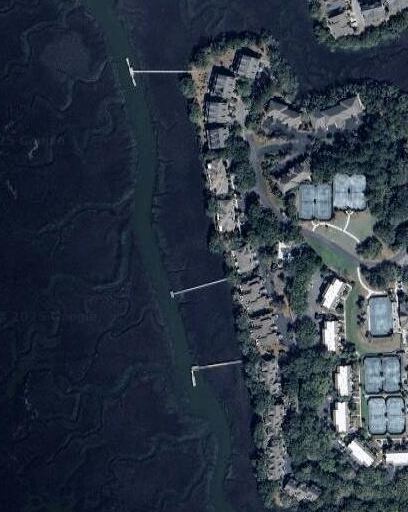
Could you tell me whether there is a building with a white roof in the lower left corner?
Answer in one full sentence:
No, I see no building with a white roof in the lower left corner.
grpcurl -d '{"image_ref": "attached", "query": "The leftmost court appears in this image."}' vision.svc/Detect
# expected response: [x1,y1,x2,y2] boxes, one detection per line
[299,183,315,221]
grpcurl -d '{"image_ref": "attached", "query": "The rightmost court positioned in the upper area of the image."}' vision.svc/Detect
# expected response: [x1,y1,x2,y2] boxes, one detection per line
[350,174,366,210]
